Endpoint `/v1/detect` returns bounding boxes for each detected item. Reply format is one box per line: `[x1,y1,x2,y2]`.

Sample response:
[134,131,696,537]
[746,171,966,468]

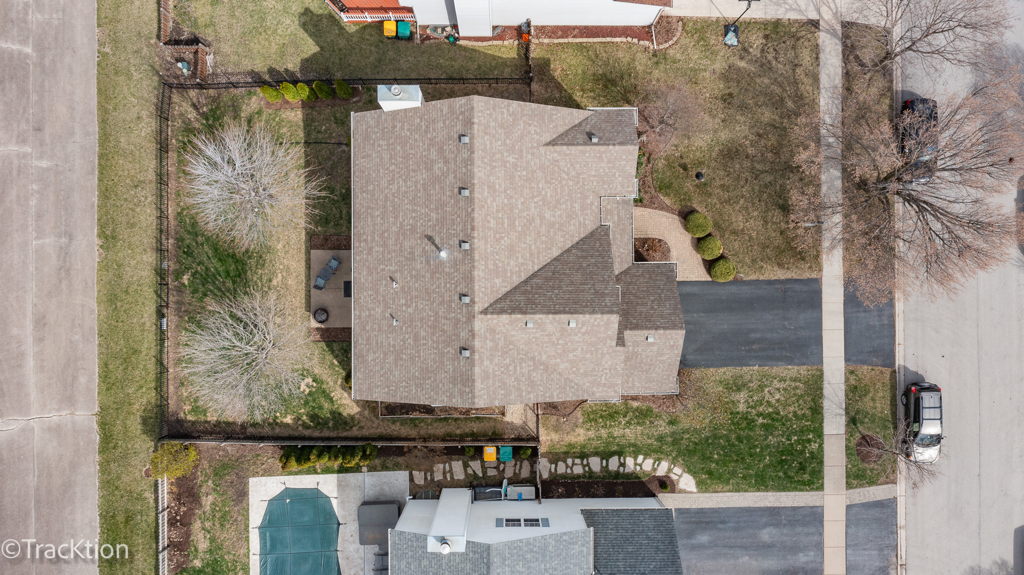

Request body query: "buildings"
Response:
[386,488,683,575]
[349,84,686,408]
[398,0,673,46]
